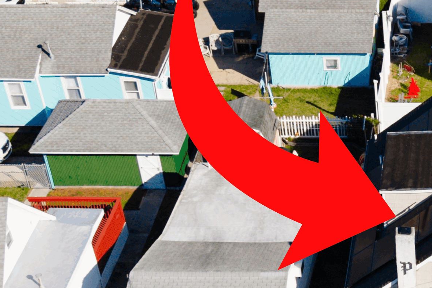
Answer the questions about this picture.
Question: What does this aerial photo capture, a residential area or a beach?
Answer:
residential area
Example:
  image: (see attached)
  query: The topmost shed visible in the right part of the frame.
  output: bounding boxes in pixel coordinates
[258,0,379,84]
